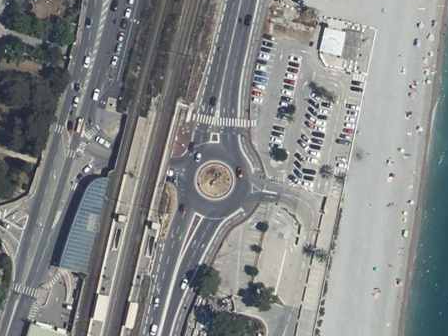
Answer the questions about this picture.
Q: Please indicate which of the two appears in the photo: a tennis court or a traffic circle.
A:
traffic circle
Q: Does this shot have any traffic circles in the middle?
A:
Yes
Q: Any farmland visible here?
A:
No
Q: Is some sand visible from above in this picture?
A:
Yes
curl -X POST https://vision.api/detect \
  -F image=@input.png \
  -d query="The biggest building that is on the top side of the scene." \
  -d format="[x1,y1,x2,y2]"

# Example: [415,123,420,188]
[318,18,376,75]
